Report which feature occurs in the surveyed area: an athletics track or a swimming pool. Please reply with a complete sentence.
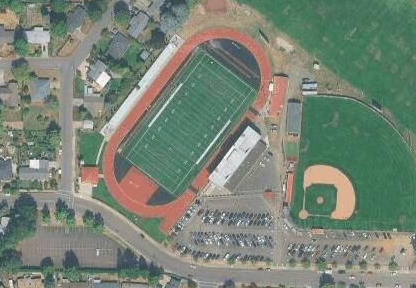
It is an athletics track that can be seen here.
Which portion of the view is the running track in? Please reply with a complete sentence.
The running track appears toward the center of the photo.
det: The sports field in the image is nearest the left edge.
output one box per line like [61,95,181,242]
[122,48,257,197]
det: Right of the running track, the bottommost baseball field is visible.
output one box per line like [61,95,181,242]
[289,95,416,231]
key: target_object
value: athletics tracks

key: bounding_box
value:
[112,35,271,235]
